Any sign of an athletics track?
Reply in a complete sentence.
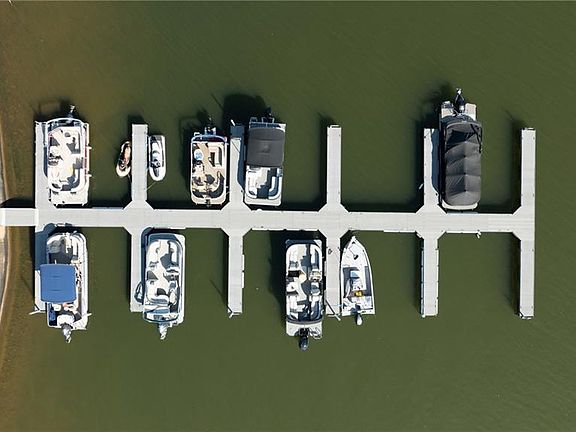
No, the photo shows no athletics track.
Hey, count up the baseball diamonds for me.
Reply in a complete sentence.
There are no baseball diamonds in this view.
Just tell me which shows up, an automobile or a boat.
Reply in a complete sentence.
It is a boat that can be seen here.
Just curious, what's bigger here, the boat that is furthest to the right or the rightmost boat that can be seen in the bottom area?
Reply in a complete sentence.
Of the two, the boat that is furthest to the right is bigger, while the rightmost boat that can be seen in the bottom area is smaller.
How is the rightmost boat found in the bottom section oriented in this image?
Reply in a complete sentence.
In this picture, the rightmost boat found in the bottom section is oriented vertically.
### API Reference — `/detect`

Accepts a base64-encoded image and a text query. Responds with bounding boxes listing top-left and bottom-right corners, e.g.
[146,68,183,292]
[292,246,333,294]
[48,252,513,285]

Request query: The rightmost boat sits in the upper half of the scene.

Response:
[440,89,484,211]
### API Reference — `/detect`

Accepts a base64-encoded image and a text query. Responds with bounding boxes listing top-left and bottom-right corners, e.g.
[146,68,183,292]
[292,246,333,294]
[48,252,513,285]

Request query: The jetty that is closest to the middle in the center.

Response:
[33,122,536,318]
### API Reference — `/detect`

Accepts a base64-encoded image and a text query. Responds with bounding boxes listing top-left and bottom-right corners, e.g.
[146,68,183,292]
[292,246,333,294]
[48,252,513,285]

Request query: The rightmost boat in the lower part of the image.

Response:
[340,236,375,325]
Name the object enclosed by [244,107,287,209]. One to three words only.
boat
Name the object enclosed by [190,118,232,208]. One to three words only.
boat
